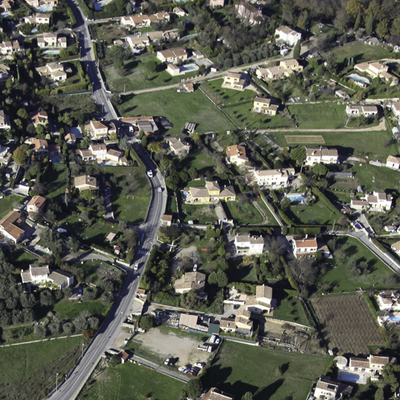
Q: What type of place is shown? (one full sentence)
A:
The area seen from above is a residential area.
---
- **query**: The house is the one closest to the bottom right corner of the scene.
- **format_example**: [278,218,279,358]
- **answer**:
[346,353,388,377]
